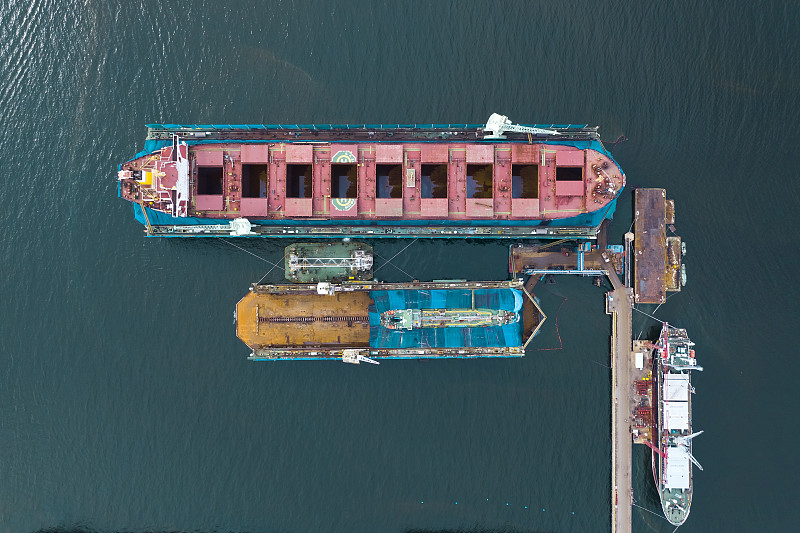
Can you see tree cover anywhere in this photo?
No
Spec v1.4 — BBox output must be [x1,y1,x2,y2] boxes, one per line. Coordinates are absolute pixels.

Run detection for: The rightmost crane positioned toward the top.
[485,118,559,140]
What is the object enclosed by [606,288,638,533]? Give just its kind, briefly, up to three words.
pier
